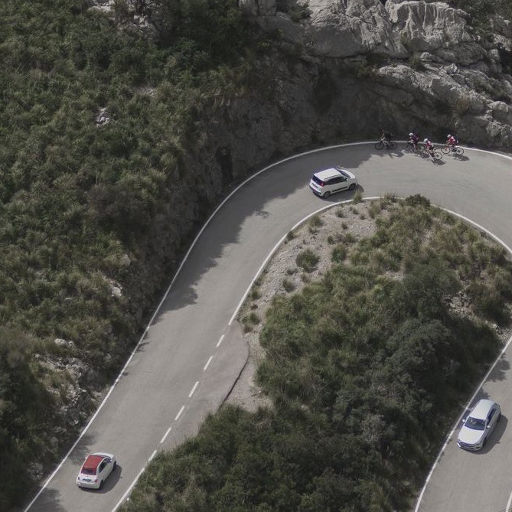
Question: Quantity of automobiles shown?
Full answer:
Looking from above, you can make out 3 automobiles.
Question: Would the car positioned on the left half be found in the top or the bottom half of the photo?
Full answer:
Seen from above, the car positioned on the left half lies in the bottom half of the view.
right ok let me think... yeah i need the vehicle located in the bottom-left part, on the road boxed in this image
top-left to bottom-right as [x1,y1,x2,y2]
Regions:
[80,451,120,489]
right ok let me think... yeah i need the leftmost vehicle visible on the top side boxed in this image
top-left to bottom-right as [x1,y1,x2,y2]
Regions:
[311,167,356,196]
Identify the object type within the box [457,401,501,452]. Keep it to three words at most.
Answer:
car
